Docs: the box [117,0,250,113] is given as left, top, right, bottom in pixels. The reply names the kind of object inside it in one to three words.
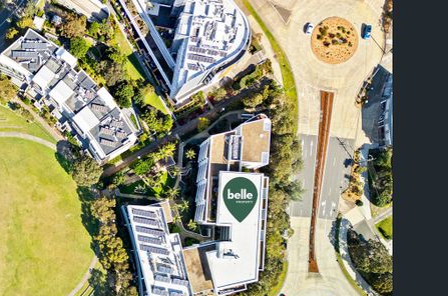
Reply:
building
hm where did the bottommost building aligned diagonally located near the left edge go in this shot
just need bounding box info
[0,28,139,164]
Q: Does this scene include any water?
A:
No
